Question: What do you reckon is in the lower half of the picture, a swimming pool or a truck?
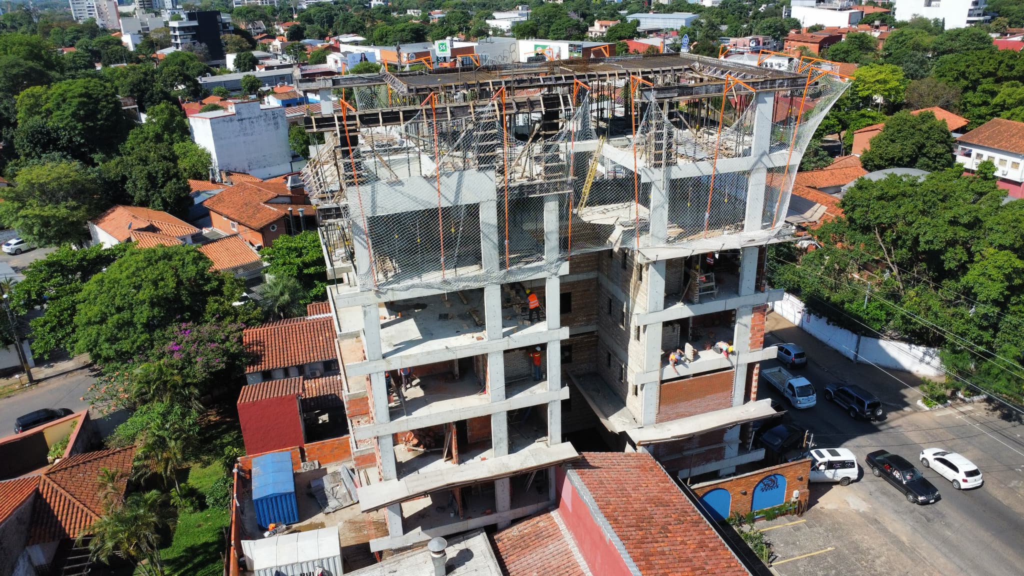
truck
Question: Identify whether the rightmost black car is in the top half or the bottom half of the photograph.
bottom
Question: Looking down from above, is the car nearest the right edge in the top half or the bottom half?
bottom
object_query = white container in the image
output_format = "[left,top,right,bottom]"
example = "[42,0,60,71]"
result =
[234,523,347,576]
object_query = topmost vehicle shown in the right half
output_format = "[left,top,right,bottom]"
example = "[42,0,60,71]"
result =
[773,341,810,369]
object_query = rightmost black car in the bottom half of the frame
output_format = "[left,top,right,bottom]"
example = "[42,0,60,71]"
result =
[867,454,946,509]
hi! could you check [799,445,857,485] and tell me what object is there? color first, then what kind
white van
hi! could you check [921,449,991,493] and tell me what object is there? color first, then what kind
white car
